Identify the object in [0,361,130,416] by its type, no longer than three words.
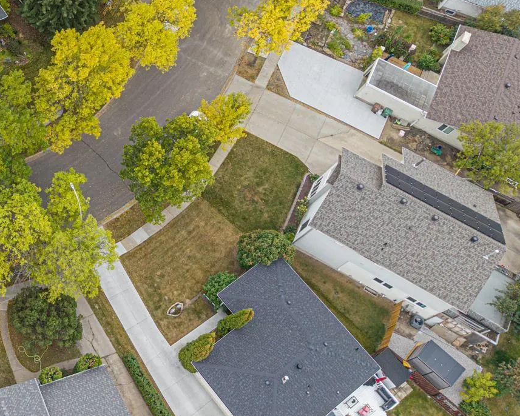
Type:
house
